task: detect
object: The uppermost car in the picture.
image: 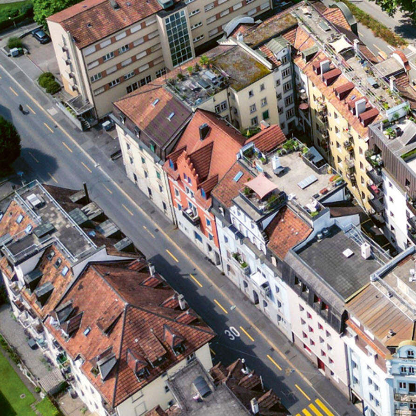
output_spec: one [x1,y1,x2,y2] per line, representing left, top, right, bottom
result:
[29,23,51,41]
